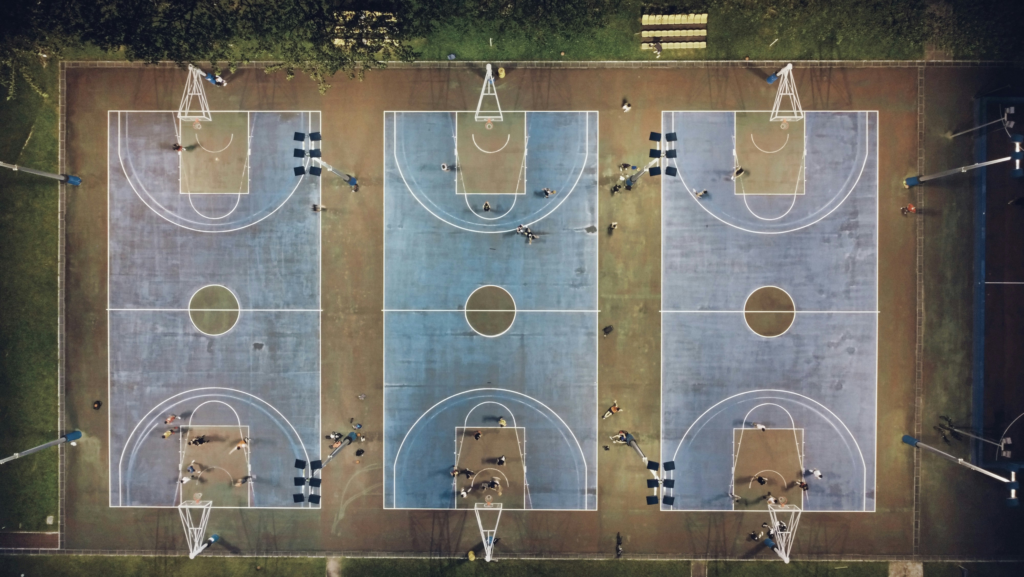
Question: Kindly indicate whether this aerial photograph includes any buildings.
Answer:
No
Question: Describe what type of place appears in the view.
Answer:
sports ground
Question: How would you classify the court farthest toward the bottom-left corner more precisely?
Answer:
basketball court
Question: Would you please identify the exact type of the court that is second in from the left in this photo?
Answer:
basketball court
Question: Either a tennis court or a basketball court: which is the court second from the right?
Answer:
basketball court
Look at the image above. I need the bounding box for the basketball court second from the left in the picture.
[382,111,600,510]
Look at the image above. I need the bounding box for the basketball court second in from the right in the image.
[659,111,879,512]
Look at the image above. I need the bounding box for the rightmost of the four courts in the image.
[972,97,1024,472]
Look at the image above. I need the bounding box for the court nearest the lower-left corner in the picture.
[106,111,323,509]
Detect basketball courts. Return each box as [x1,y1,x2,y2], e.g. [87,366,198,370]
[382,111,600,510]
[106,111,323,509]
[659,111,879,512]
[972,97,1024,472]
